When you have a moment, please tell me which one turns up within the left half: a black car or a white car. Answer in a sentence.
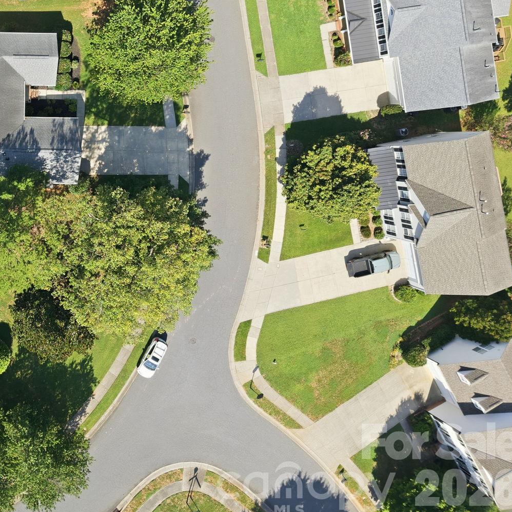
It is a white car that can be seen within the left half.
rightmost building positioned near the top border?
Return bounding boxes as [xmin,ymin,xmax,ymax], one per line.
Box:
[339,0,509,113]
